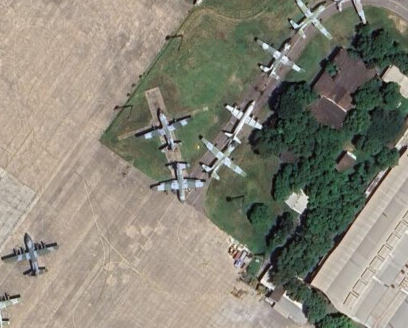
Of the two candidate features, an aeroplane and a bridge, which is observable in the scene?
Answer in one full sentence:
This aerial view contains an aeroplane.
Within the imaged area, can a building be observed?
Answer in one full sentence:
Yes, the photo shows a building.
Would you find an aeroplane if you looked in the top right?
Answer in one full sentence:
Yes, an aeroplane can be seen in the top right.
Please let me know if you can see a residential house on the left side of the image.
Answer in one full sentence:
No, on the left side of the image there is no residential house.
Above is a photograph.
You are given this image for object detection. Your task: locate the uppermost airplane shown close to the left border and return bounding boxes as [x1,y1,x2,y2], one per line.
[4,237,56,282]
